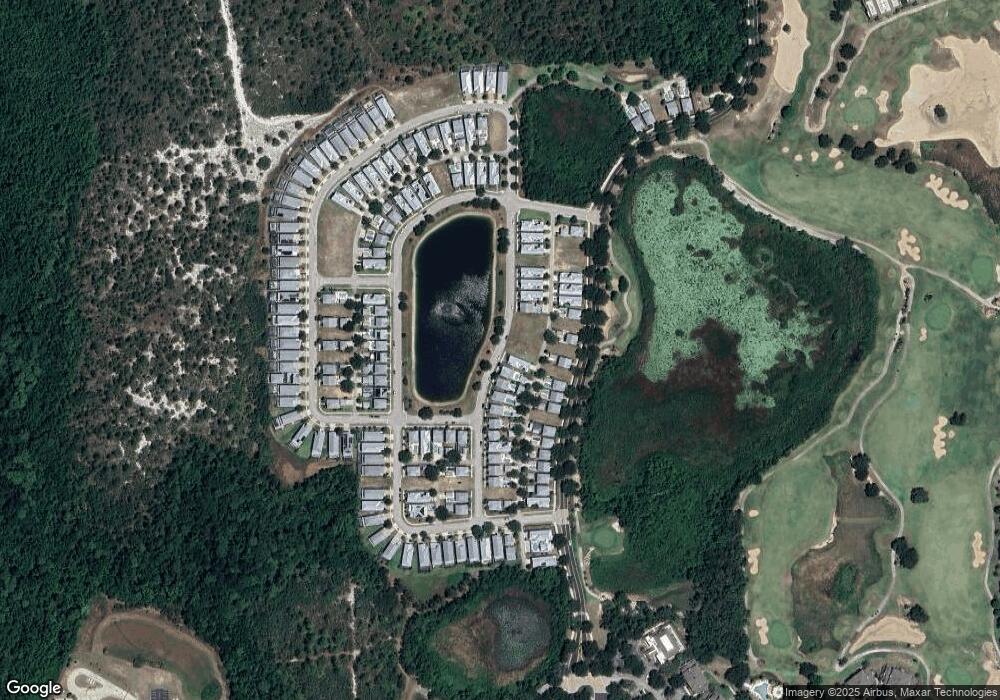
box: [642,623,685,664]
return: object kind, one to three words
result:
building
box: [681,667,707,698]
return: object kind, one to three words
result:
building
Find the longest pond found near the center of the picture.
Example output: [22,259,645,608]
[415,215,494,402]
